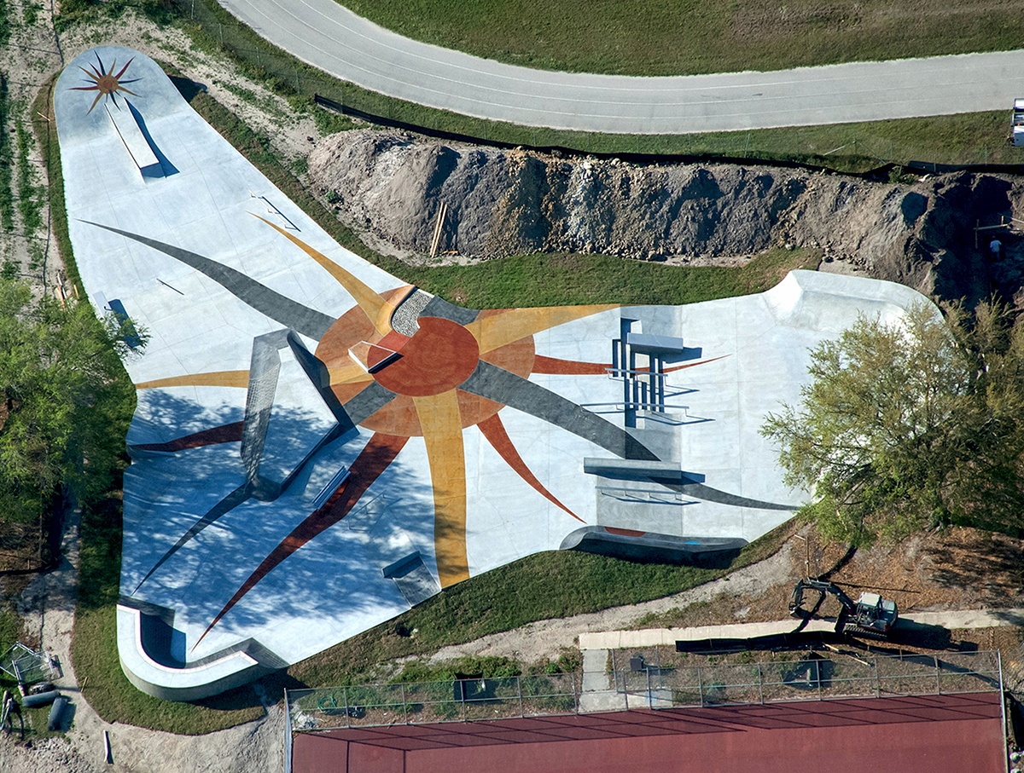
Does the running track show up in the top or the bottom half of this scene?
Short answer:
top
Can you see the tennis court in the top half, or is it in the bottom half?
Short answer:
bottom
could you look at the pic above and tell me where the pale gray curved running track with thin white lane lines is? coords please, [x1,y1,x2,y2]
[218,0,1024,133]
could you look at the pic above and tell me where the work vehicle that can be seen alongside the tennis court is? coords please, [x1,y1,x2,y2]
[785,569,904,645]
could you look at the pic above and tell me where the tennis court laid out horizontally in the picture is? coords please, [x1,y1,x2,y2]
[291,692,1010,773]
